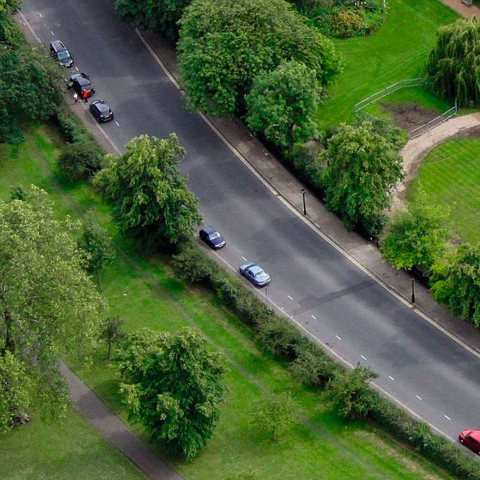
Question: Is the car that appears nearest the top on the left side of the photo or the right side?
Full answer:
The car that appears nearest the top appears in the left half of the scene.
